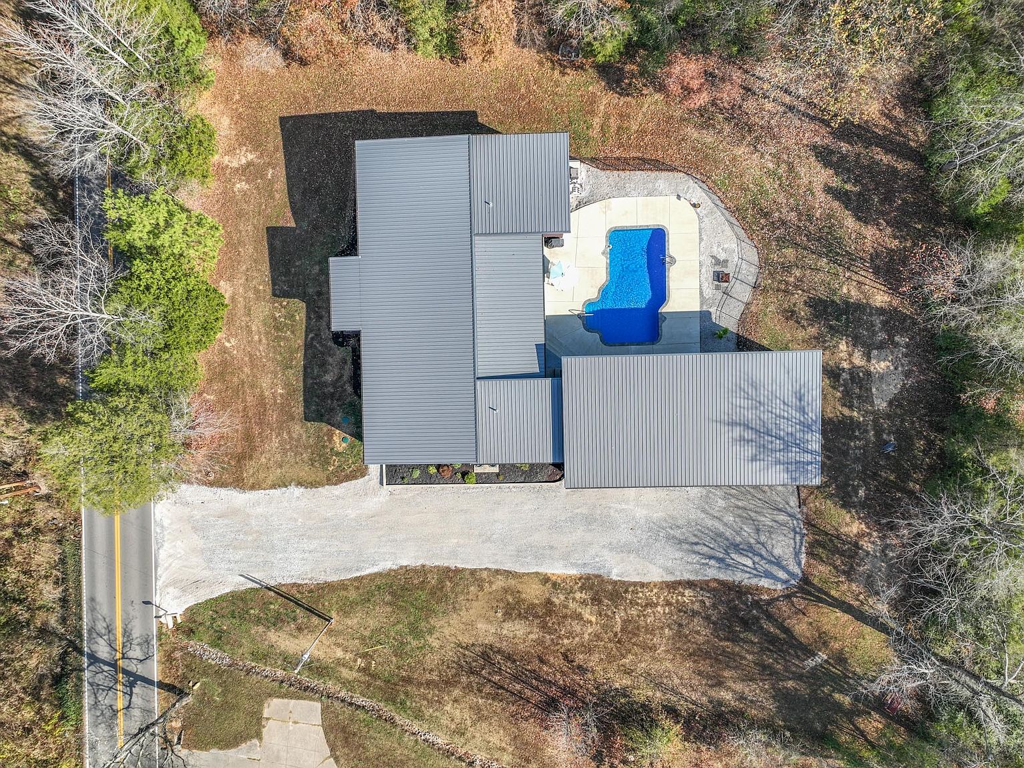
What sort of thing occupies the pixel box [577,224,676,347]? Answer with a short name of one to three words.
swimming pool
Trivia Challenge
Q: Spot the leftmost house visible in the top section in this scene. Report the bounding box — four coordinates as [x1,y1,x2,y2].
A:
[330,131,571,465]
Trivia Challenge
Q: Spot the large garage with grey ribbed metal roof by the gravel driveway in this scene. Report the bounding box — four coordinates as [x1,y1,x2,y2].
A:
[563,351,824,490]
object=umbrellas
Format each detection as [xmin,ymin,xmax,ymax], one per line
[547,260,576,289]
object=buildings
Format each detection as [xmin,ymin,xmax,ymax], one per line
[563,351,824,490]
[330,131,571,465]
